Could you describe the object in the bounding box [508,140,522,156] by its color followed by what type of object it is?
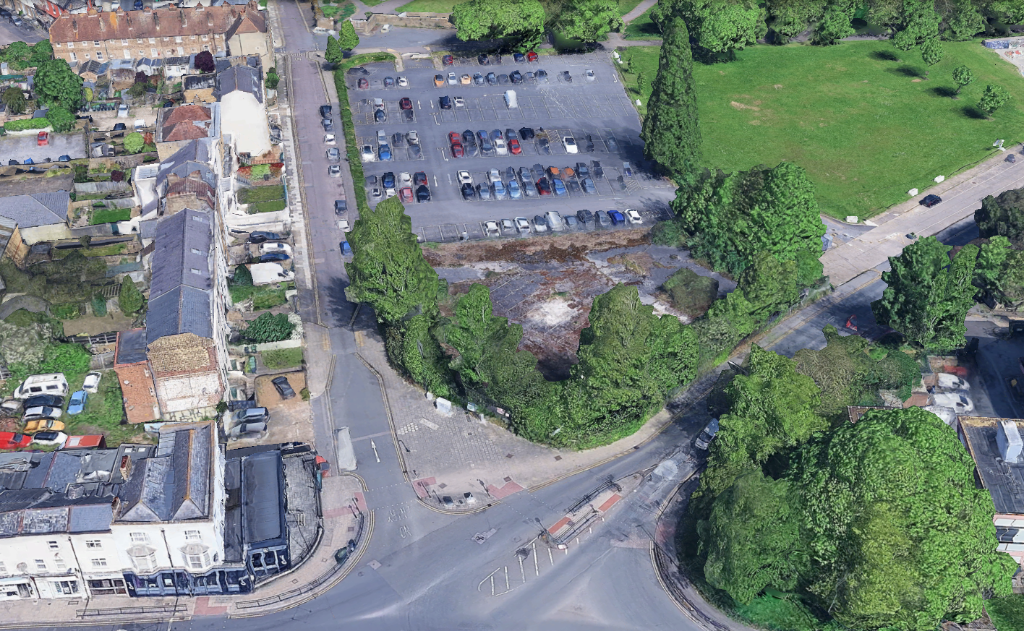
red car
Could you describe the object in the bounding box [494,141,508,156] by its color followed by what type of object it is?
white car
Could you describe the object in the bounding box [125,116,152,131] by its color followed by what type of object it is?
white vehicle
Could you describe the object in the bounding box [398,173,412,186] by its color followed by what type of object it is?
white vehicle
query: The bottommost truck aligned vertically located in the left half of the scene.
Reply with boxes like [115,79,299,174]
[332,424,360,475]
